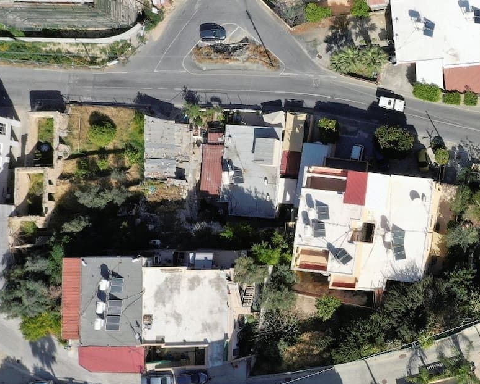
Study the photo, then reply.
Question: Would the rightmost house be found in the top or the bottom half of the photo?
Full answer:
You can find the rightmost house in the top half.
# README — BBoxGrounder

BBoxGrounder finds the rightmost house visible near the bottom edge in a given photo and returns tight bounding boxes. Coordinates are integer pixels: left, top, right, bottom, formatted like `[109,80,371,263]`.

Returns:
[143,266,251,370]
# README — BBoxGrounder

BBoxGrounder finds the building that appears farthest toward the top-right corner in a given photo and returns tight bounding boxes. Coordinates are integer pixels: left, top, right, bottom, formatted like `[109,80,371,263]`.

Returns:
[392,0,480,89]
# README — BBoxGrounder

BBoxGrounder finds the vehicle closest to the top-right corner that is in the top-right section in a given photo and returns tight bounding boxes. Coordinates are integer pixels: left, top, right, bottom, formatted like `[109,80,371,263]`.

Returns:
[377,94,406,110]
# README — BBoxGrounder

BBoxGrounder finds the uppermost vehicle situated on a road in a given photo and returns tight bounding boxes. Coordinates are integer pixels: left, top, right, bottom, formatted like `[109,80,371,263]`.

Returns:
[199,26,225,41]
